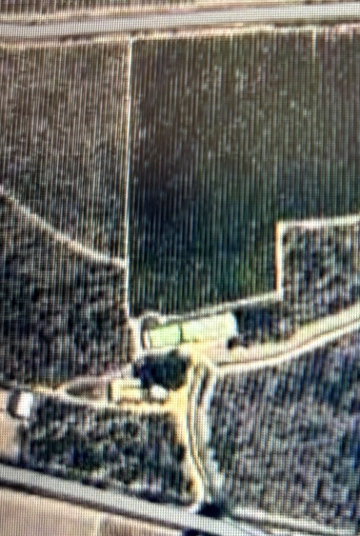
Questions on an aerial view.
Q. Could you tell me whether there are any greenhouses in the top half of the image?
No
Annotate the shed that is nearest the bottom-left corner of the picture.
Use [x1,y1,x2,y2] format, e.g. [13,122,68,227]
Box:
[11,391,31,418]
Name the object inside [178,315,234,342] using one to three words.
greenhouse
